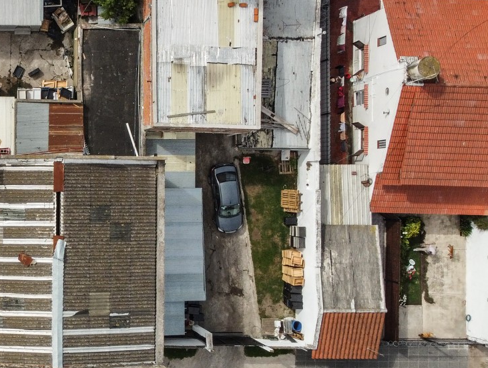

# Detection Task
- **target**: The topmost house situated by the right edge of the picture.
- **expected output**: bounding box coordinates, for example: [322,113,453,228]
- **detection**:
[353,0,488,214]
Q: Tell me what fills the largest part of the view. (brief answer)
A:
buildings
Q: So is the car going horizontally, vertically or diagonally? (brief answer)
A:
vertically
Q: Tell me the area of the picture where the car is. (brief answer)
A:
center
